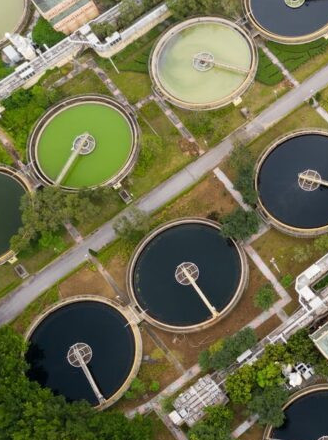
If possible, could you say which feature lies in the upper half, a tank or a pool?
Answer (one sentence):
There is a tank in the upper half.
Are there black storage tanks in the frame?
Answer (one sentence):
Yes, looking at the shot, I can spot a black storage tank.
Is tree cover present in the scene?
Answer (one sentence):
Yes, there is tree cover in the image.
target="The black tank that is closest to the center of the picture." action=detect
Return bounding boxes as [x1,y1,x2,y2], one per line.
[127,217,247,333]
